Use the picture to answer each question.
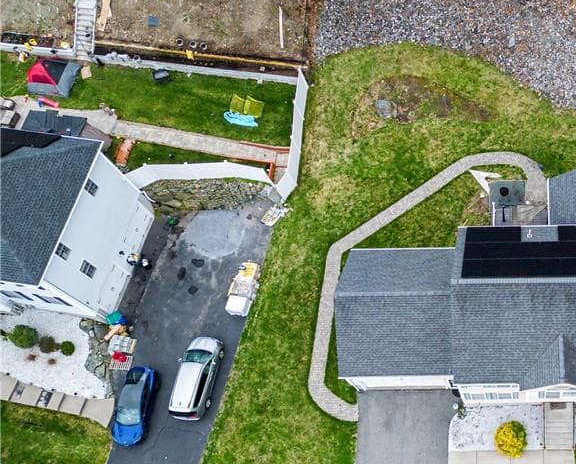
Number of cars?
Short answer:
2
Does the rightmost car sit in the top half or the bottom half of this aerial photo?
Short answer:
bottom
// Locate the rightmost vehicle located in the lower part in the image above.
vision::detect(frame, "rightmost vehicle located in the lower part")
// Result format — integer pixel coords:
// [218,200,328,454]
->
[171,337,228,421]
